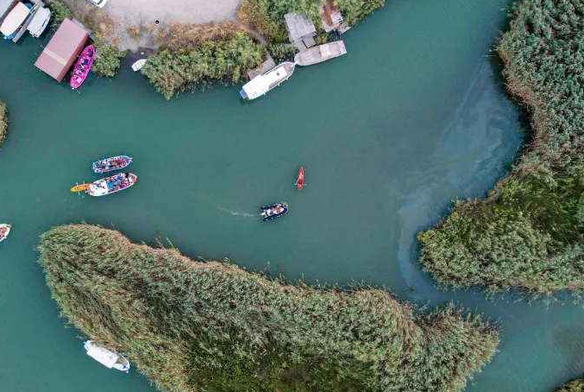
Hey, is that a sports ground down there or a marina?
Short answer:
marina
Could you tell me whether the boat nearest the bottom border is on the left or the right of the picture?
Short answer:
left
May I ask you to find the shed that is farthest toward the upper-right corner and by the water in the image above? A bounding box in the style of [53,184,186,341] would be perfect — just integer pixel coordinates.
[319,0,343,33]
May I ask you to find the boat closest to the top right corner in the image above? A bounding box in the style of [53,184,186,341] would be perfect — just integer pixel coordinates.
[294,39,348,64]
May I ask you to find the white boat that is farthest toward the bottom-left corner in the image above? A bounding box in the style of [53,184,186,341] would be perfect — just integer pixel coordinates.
[84,340,129,369]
